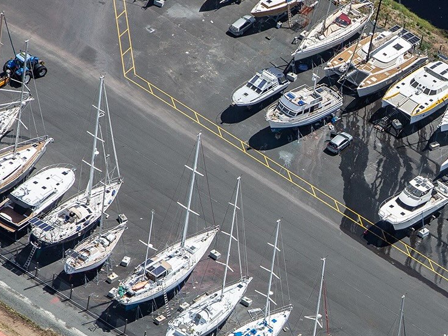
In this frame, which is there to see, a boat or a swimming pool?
boat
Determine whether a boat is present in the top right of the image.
Yes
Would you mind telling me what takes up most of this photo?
paved ground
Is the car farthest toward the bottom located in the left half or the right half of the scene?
right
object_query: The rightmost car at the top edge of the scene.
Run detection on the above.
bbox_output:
[228,13,258,33]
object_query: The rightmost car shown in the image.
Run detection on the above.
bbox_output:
[326,131,352,151]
